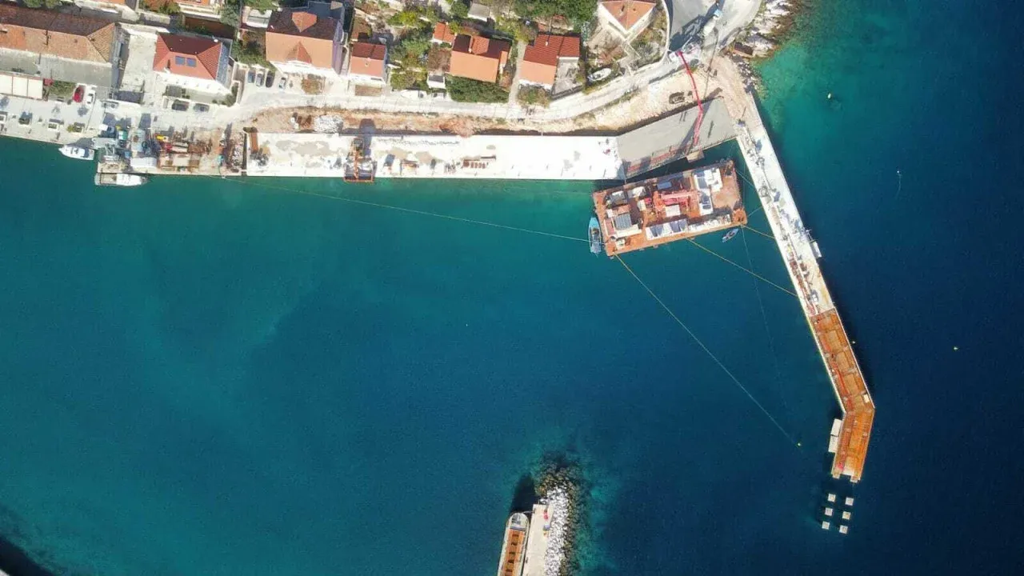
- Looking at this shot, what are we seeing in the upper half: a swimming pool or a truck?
truck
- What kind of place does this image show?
port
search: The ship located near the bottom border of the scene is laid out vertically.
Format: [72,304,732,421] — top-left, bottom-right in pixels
[495,511,527,576]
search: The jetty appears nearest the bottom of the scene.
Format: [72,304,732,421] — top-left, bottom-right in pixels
[522,503,554,576]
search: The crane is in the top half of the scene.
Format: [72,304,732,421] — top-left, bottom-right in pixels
[651,188,699,216]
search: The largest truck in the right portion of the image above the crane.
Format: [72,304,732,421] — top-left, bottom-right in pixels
[669,45,710,147]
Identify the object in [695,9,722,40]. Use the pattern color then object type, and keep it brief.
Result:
white truck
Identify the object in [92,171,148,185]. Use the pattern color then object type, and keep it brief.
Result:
white boat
